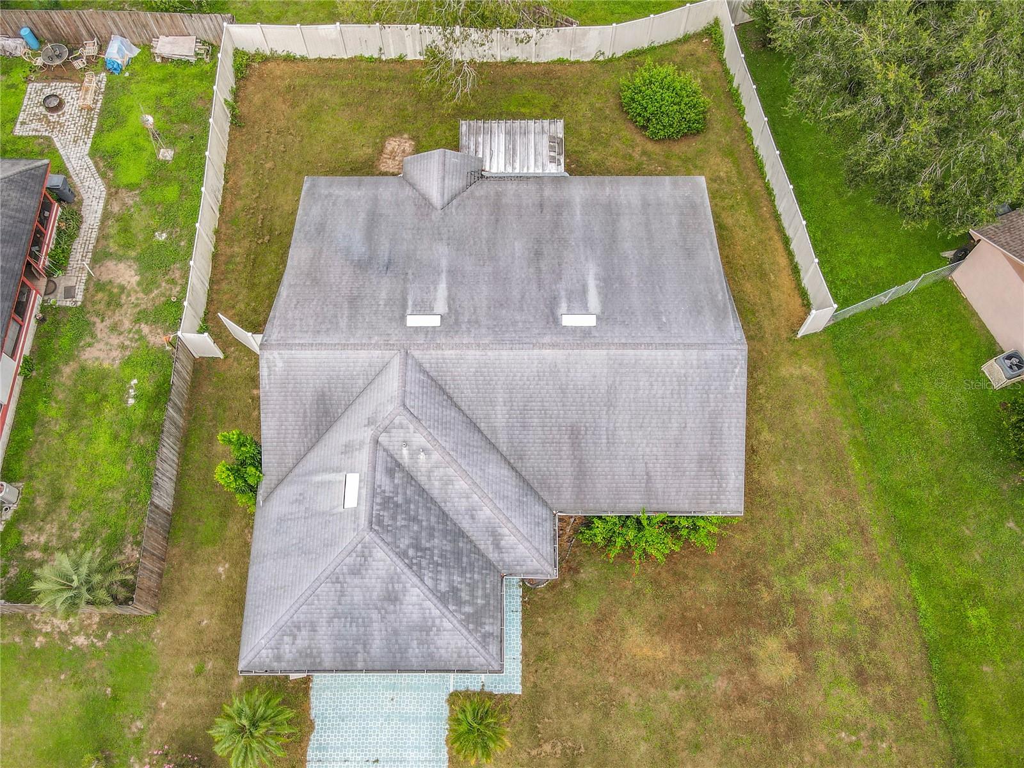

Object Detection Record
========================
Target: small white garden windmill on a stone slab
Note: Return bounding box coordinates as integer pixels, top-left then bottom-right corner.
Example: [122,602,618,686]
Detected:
[143,112,172,159]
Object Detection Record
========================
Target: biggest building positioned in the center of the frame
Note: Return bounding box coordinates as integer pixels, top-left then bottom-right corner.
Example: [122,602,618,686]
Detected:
[239,146,746,674]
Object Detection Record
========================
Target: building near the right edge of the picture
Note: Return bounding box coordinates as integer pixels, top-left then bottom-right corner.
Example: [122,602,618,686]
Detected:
[948,211,1024,359]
